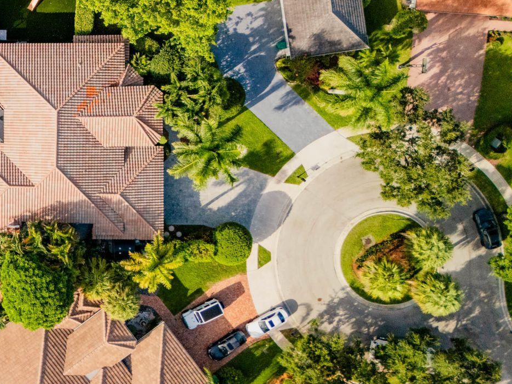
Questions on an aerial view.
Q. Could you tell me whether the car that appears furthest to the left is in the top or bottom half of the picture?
bottom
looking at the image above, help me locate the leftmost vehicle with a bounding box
[180,297,224,329]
